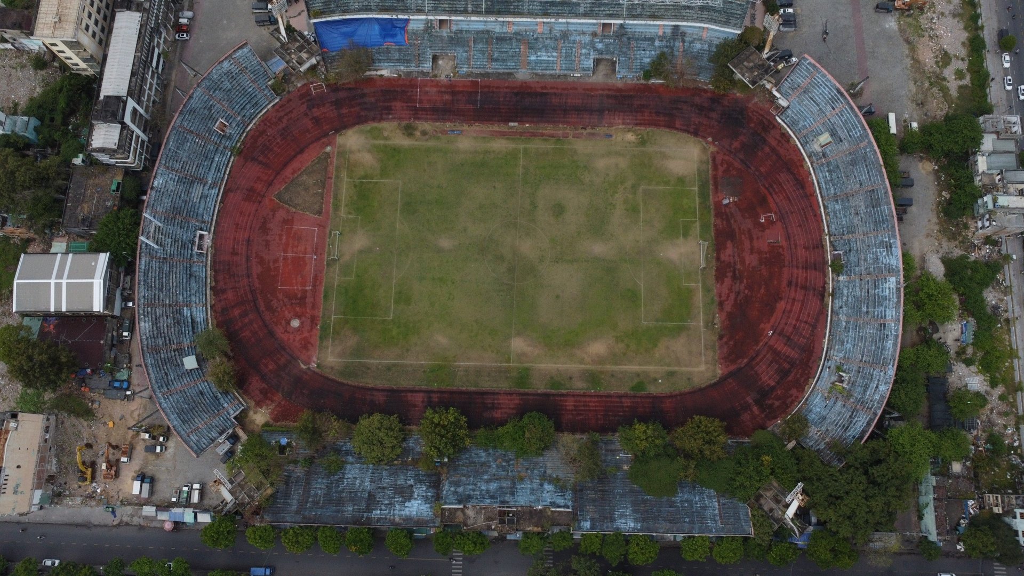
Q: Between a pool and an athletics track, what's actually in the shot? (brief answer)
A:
athletics track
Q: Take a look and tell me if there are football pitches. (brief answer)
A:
Yes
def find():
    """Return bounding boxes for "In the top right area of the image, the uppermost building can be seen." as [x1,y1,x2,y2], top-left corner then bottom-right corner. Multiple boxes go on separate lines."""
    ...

[725,46,776,96]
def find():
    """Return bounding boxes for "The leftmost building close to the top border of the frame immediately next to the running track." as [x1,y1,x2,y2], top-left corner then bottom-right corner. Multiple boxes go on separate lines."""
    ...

[86,0,176,170]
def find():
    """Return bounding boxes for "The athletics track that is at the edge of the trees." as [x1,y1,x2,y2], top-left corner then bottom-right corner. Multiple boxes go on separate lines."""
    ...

[211,78,827,438]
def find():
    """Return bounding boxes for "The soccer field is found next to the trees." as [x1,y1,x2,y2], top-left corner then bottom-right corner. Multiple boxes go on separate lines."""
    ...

[315,121,721,396]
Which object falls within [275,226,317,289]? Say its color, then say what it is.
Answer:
red sports court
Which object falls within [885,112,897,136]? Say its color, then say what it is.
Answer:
white vehicle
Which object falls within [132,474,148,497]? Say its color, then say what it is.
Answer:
white vehicle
